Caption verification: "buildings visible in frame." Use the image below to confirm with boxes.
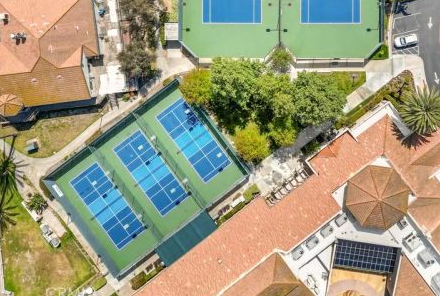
[165,22,182,41]
[0,0,103,114]
[129,101,440,296]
